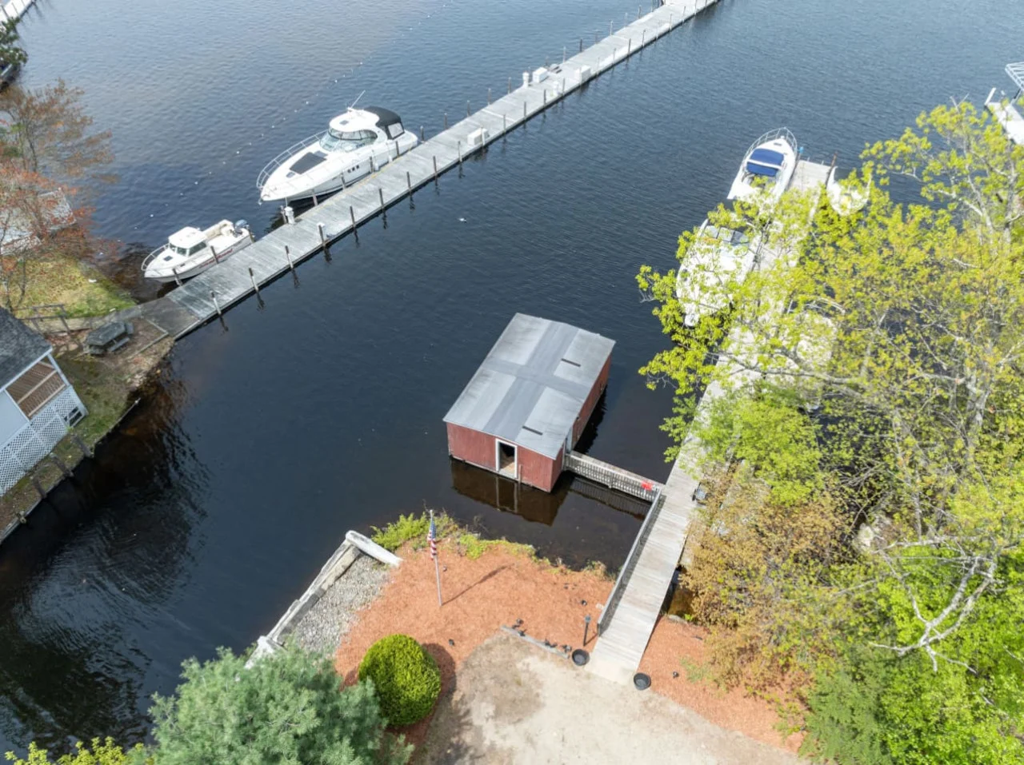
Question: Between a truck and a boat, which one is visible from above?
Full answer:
Visible in the photo is a boat.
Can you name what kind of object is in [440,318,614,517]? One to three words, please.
building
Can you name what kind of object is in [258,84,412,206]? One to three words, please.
boat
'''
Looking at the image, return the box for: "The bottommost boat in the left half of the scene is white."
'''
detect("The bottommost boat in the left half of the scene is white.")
[149,213,259,282]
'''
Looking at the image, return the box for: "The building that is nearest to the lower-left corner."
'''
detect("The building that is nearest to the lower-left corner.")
[0,310,89,496]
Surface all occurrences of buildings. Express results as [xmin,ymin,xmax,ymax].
[440,318,614,517]
[0,310,89,496]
